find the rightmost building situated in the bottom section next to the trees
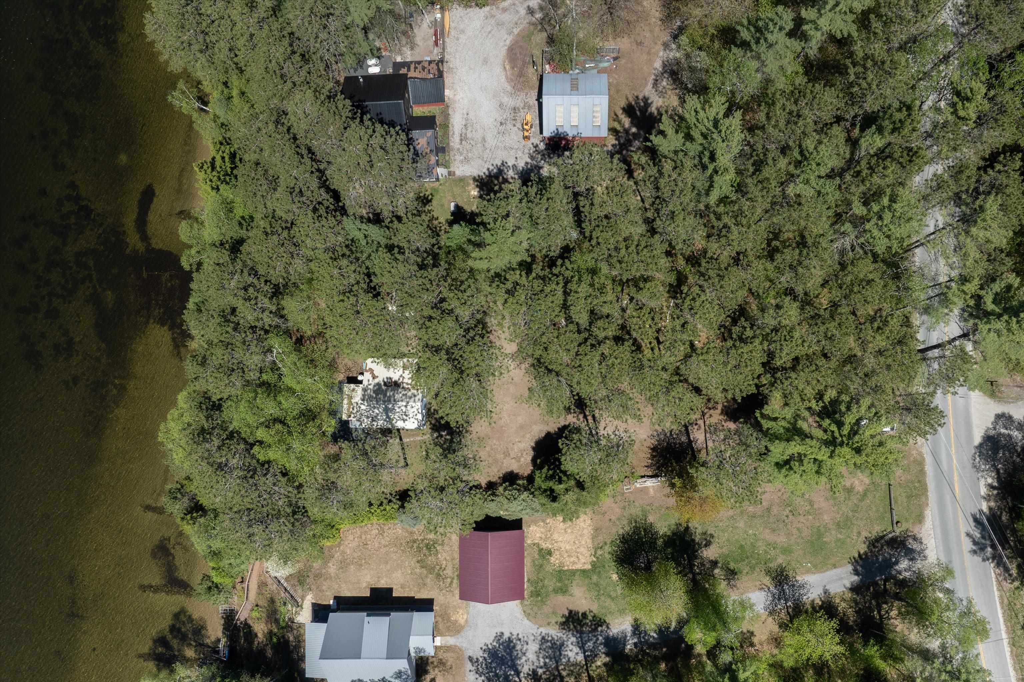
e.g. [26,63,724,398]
[459,530,525,605]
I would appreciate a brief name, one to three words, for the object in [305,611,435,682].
house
